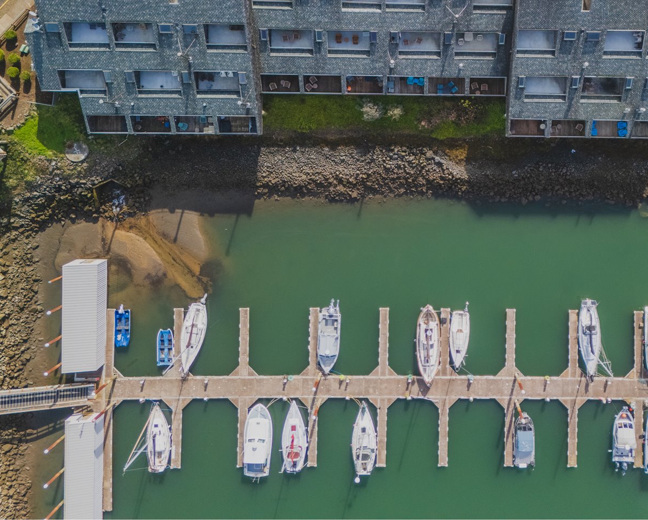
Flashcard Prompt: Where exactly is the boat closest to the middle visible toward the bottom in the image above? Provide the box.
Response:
[317,298,342,378]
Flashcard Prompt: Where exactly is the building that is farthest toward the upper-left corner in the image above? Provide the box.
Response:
[25,0,271,135]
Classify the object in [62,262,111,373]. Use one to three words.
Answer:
shed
